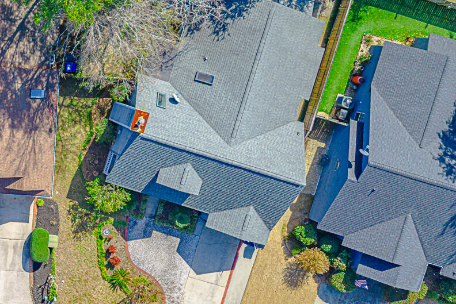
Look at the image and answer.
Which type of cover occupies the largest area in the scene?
buildings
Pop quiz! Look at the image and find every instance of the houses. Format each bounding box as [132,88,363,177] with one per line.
[101,0,327,249]
[0,0,61,198]
[307,33,456,292]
